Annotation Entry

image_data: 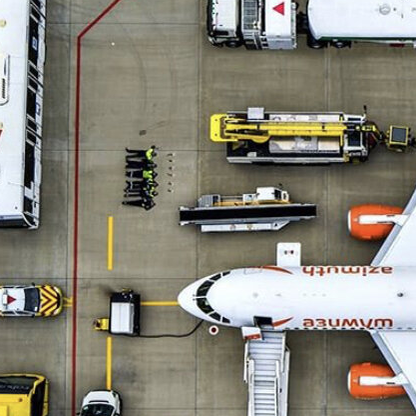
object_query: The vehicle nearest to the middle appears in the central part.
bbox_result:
[180,182,318,239]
